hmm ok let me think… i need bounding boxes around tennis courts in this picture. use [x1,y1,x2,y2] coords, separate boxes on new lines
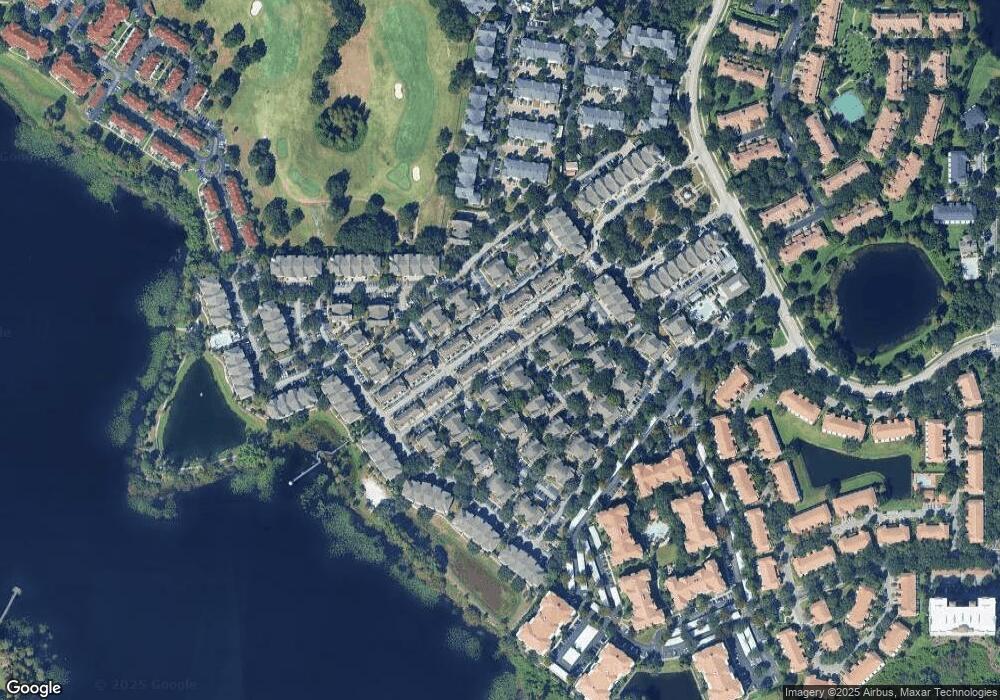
[829,91,867,124]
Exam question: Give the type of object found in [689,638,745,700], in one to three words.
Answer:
building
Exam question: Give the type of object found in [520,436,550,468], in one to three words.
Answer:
house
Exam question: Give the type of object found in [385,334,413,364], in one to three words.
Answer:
house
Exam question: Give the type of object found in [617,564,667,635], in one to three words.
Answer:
building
